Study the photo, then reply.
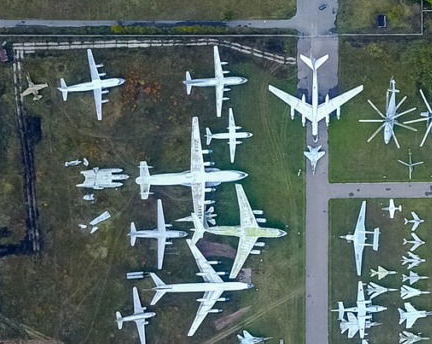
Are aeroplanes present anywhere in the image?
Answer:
Yes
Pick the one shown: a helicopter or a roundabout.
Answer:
helicopter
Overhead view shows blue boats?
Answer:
No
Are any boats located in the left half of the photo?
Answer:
No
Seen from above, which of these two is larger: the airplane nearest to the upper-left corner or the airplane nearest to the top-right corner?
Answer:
the airplane nearest to the top-right corner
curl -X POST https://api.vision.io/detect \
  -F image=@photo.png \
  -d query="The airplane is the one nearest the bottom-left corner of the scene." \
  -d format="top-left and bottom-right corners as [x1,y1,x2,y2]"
[115,287,156,344]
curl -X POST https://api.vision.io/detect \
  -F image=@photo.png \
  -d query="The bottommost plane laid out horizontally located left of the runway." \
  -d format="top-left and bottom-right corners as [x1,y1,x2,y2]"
[235,329,272,344]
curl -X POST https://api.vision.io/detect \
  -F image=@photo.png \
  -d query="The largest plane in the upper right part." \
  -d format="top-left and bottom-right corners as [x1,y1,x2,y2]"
[269,50,359,138]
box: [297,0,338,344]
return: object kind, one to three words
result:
runway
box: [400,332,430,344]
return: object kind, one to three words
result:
airplane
